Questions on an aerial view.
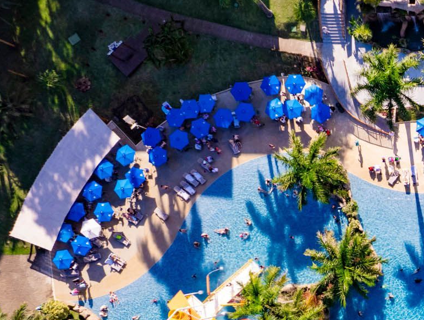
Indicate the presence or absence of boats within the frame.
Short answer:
No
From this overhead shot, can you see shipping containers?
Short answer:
No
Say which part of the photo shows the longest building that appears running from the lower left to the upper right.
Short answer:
left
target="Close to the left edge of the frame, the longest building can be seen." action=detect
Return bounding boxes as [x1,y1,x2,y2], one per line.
[8,108,125,250]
